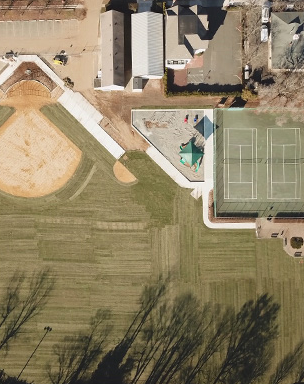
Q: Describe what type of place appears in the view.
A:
sports ground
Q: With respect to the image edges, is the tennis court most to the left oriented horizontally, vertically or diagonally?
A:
vertically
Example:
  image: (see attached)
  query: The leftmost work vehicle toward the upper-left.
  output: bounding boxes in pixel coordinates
[2,49,16,62]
